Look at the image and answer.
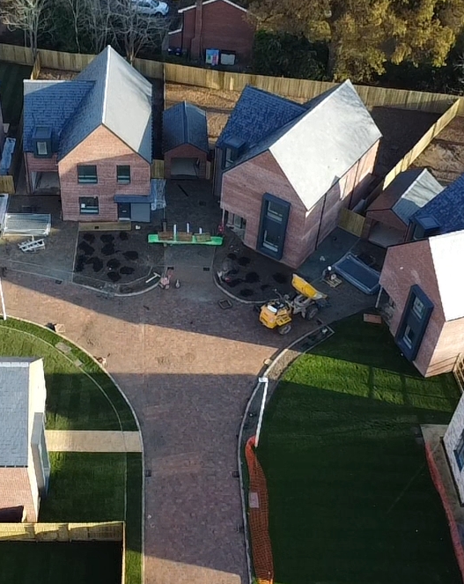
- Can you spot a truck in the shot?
Yes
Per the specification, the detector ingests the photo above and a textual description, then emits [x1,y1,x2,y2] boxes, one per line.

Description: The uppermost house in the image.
[157,0,262,58]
